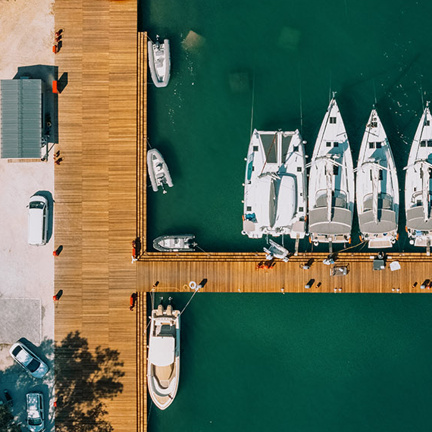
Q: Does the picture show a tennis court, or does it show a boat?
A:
boat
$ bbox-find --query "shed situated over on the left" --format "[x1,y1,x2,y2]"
[0,78,43,159]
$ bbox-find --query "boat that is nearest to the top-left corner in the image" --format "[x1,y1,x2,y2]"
[147,31,171,87]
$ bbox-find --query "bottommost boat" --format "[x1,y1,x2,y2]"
[144,287,199,429]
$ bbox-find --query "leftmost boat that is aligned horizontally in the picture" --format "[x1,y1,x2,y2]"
[152,234,208,253]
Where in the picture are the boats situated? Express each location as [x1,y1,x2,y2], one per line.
[404,76,432,253]
[152,234,208,253]
[147,31,171,87]
[144,287,199,429]
[147,139,172,201]
[241,82,310,257]
[351,87,399,250]
[262,239,288,259]
[303,92,354,259]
